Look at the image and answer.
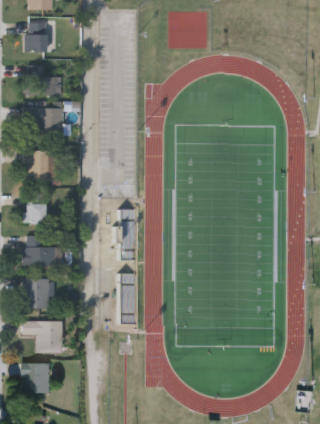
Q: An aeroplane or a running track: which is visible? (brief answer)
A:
running track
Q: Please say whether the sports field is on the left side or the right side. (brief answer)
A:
right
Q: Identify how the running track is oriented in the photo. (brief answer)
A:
from top to bottom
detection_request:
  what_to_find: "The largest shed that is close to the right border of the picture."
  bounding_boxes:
[296,390,312,412]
